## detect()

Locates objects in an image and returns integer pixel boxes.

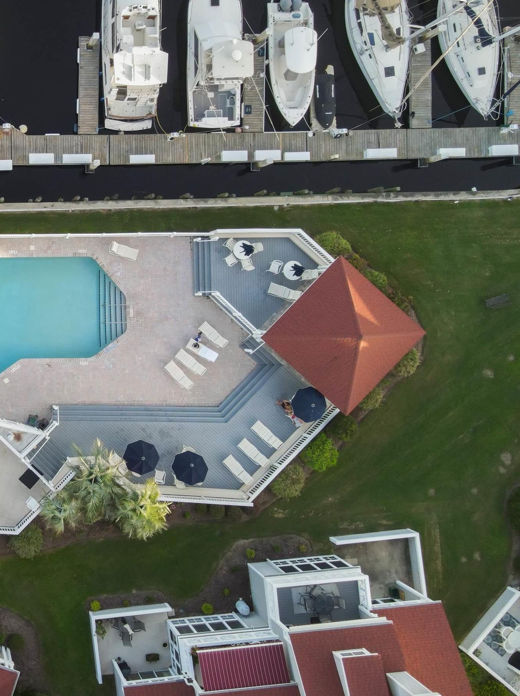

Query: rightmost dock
[501,27,520,127]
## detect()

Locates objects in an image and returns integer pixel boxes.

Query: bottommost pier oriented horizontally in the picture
[0,126,520,168]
